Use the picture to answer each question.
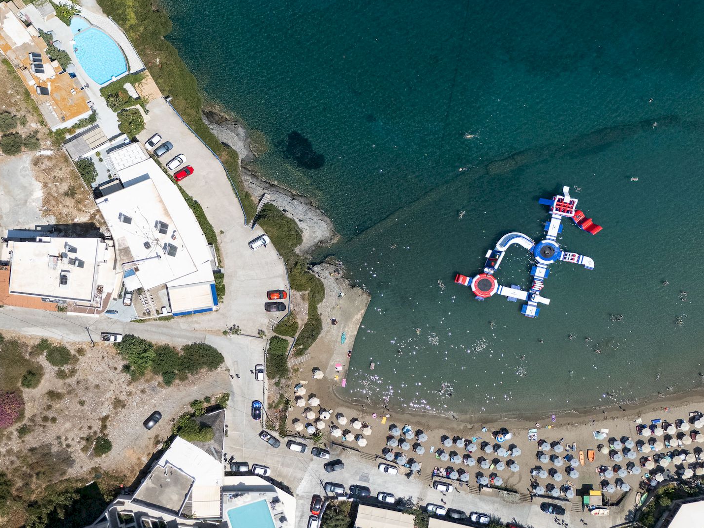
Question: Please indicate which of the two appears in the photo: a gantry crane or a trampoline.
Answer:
trampoline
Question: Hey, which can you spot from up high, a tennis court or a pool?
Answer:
pool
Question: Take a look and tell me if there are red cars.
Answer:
Yes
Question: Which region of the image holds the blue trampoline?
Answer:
right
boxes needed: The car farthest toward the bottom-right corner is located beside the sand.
[539,502,565,515]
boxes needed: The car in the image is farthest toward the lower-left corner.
[141,410,163,431]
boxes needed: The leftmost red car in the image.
[173,165,194,181]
